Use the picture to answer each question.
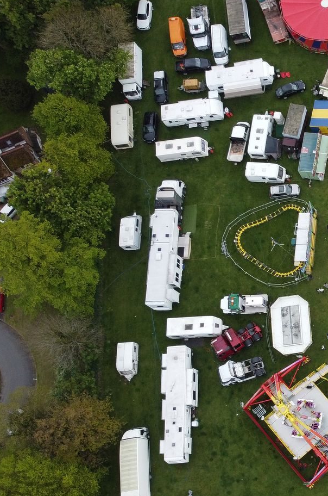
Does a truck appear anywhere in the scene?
Yes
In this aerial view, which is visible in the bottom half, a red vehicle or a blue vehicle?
red vehicle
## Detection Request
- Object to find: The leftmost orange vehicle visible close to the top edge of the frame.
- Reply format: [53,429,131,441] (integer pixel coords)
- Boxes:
[168,17,189,58]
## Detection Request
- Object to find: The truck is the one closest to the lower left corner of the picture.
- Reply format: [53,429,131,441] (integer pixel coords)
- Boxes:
[121,424,152,496]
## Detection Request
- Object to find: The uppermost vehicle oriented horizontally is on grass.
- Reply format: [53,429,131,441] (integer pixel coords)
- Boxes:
[175,58,212,74]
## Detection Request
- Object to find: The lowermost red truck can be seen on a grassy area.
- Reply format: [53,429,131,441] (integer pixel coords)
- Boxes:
[214,324,264,359]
